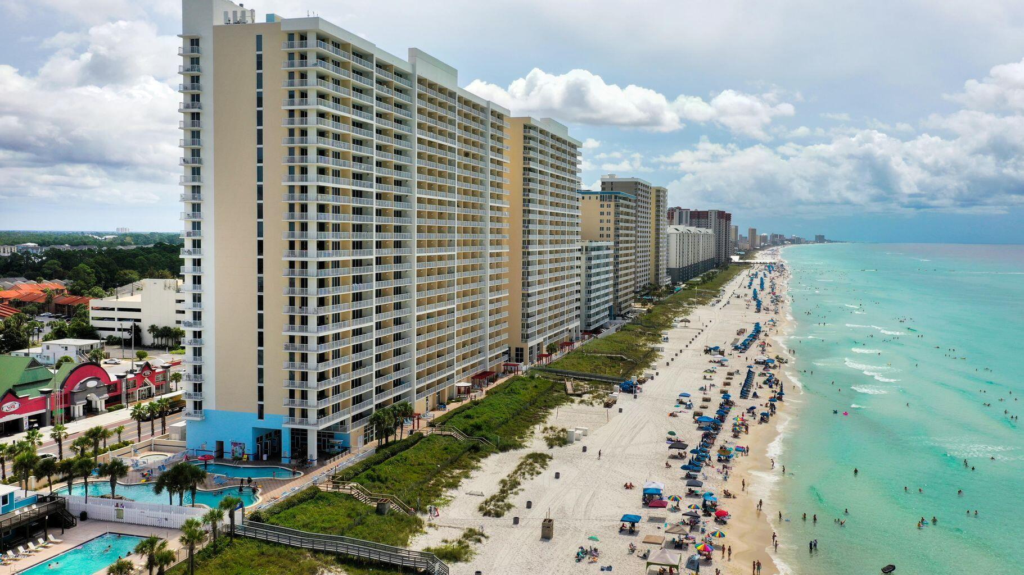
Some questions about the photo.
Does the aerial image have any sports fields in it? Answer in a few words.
No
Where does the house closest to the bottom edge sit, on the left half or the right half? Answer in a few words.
left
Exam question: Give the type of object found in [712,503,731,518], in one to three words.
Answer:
umbrella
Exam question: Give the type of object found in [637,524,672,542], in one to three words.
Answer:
tent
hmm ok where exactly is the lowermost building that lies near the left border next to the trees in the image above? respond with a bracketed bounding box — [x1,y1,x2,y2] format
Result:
[0,481,89,545]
